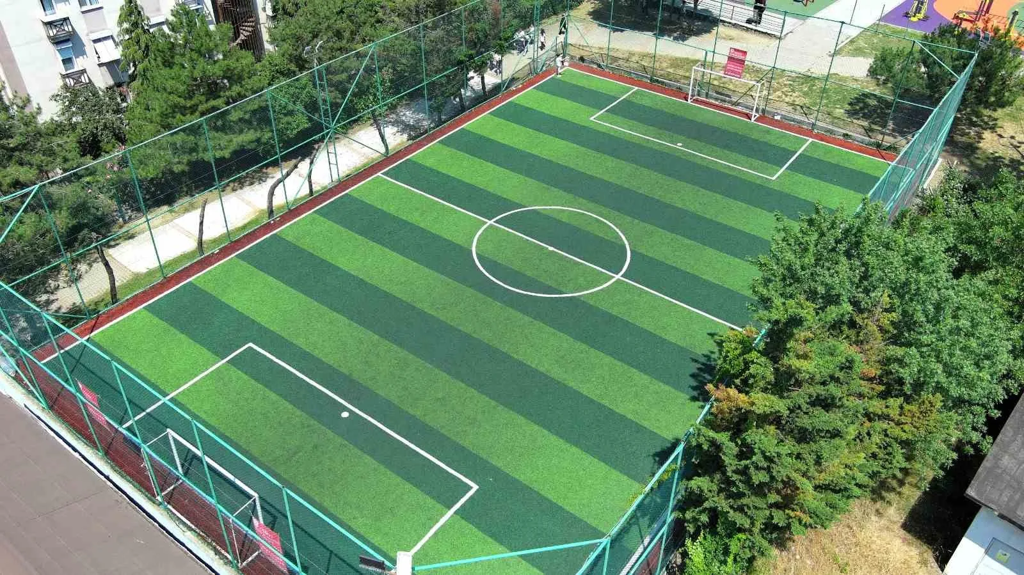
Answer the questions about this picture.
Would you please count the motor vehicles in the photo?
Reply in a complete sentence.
There are no motor vehicles in this view.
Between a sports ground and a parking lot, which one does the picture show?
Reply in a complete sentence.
This looks like a sports ground.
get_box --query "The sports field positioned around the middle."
[48,69,908,575]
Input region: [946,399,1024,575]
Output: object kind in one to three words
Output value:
shed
